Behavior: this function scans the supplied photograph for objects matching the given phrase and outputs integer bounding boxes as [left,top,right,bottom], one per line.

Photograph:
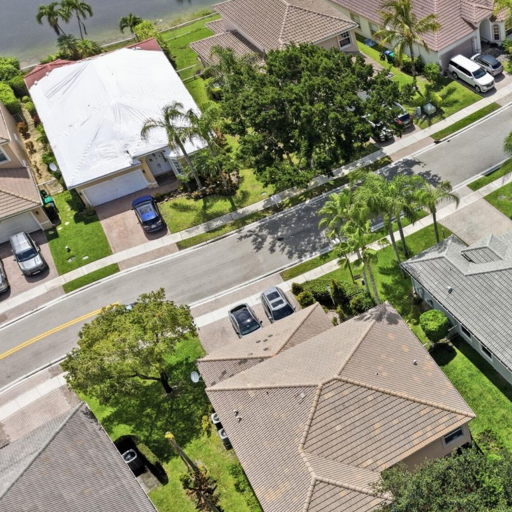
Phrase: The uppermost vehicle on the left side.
[132,194,168,236]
